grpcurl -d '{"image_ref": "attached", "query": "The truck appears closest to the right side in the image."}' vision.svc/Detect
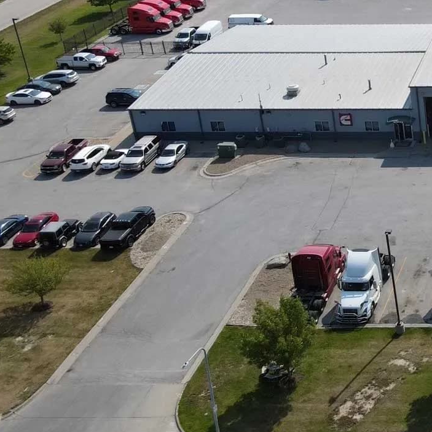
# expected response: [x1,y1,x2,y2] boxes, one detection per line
[332,240,390,322]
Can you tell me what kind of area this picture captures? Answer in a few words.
parking lot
